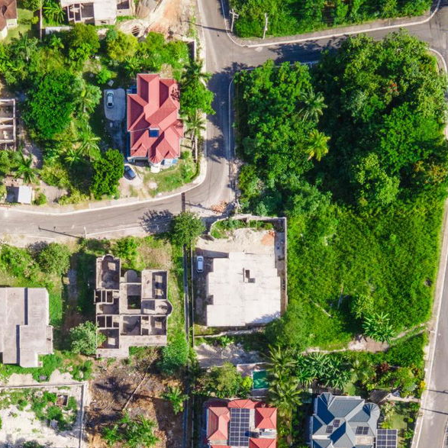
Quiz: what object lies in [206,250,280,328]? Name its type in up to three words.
house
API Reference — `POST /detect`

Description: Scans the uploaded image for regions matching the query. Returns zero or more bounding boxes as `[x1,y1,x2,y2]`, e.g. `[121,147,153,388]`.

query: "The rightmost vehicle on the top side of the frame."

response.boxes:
[123,162,137,183]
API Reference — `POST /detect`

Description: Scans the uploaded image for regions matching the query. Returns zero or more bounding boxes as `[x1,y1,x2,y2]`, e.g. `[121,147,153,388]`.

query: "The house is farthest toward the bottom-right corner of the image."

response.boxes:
[310,396,380,448]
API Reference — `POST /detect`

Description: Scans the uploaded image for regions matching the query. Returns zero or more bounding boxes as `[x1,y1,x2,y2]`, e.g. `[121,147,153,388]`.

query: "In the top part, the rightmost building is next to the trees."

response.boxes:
[127,74,183,176]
